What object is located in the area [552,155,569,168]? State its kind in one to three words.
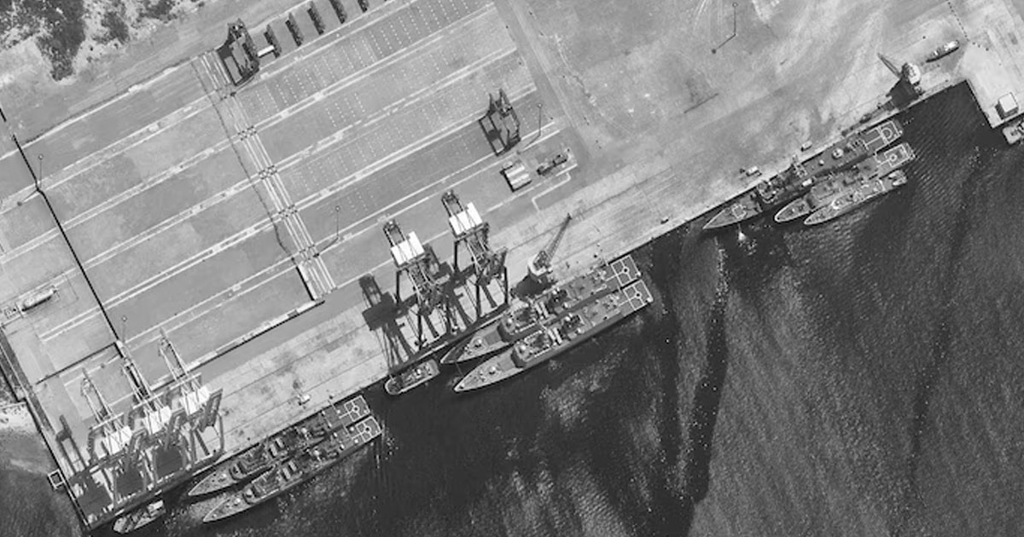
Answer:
vehicle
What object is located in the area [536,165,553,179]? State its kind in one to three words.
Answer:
vehicle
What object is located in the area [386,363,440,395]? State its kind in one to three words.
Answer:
boat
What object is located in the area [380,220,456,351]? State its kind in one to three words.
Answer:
container crane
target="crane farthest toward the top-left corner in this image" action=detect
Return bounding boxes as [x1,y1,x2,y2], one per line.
[226,10,262,78]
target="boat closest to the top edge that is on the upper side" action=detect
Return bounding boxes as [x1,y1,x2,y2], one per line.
[927,40,961,60]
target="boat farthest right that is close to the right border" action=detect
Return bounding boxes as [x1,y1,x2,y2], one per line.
[1004,118,1024,144]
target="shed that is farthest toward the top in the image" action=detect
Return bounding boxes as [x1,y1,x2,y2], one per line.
[998,92,1018,118]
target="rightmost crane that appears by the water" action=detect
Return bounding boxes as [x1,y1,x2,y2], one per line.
[884,50,931,101]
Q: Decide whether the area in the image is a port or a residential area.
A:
port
